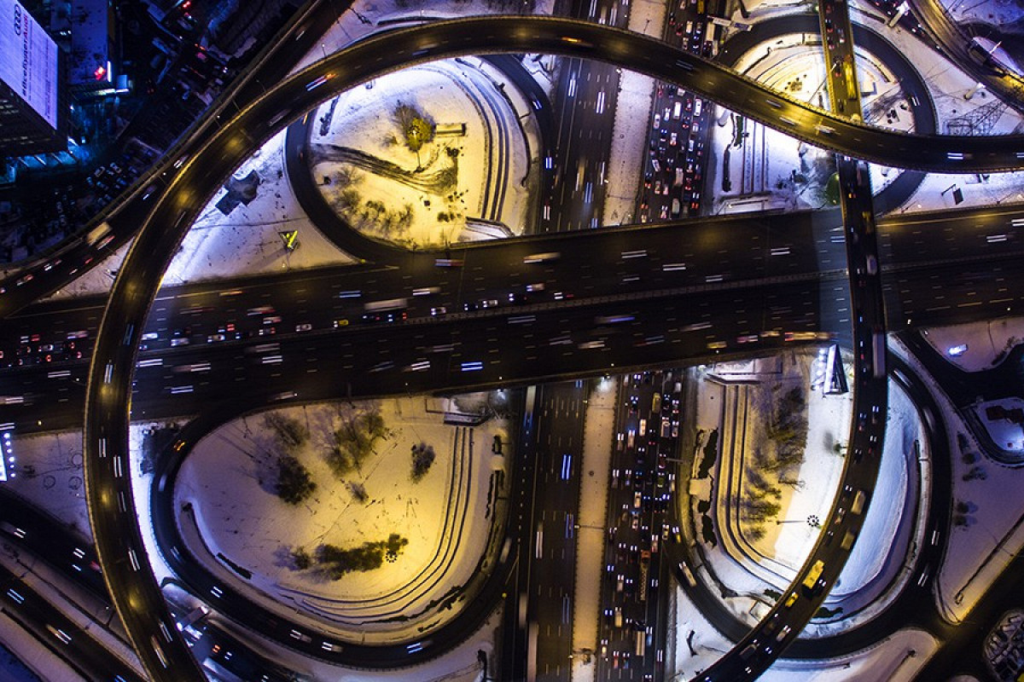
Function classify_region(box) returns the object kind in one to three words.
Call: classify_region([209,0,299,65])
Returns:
building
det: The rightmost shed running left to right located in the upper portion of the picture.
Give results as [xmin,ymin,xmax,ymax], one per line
[436,121,464,134]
